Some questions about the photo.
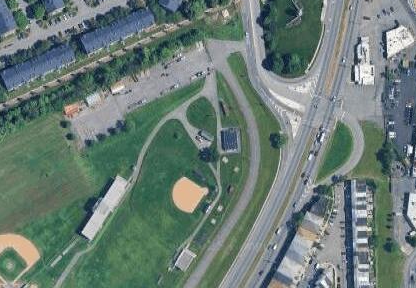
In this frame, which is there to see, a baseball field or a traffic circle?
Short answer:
baseball field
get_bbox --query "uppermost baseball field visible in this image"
[172,178,208,213]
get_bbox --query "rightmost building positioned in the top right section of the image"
[386,26,414,60]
